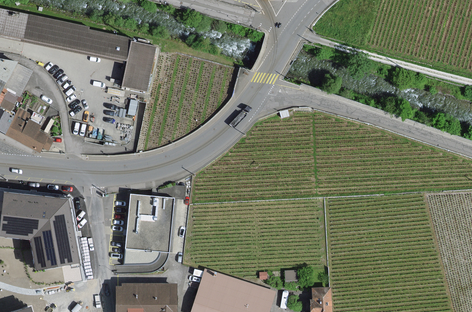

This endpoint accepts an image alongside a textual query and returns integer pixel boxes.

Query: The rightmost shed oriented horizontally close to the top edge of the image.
[23,14,130,60]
